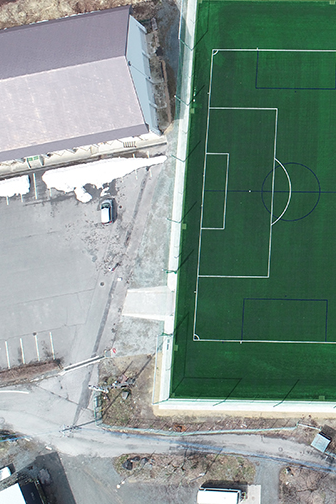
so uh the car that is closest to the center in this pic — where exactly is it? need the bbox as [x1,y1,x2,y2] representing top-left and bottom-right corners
[101,199,116,224]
